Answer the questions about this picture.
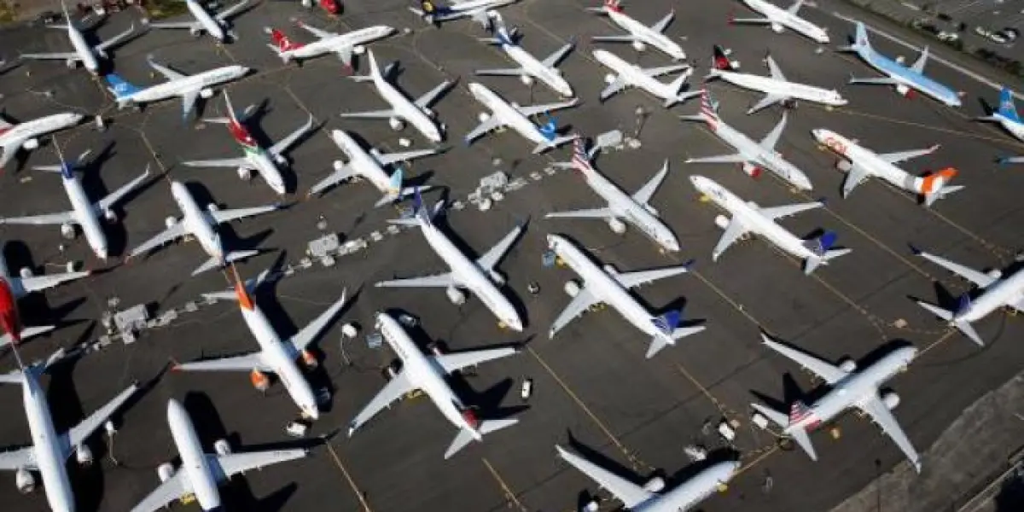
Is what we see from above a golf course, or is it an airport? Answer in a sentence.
The picture captures an airport.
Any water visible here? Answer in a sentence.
No, the picture contains no water.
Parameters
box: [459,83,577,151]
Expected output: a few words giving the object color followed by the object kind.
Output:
white airplane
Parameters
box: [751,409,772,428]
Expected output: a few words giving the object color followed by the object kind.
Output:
white vehicle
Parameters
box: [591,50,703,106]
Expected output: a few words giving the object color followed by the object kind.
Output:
white airplane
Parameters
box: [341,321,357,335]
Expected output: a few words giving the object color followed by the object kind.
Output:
white work vehicle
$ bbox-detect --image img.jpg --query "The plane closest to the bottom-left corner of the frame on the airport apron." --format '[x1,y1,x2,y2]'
[0,342,145,512]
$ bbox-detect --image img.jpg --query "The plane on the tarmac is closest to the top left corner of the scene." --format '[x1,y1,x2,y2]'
[19,3,137,77]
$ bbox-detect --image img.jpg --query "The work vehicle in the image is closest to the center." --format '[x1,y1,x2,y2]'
[526,283,540,296]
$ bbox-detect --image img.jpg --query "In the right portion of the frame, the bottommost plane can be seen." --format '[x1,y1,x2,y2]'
[560,436,739,512]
